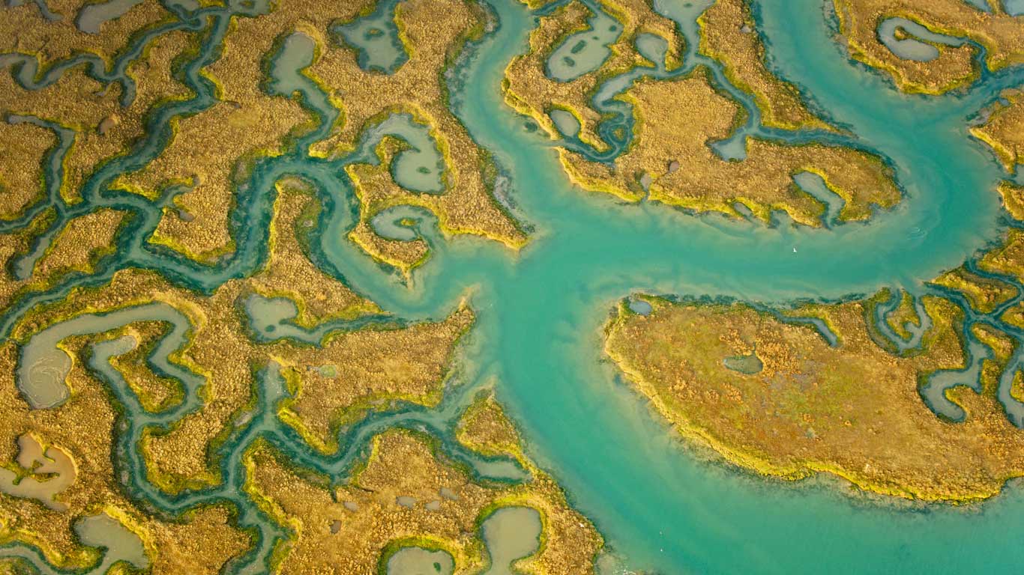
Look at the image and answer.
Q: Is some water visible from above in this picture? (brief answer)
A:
Yes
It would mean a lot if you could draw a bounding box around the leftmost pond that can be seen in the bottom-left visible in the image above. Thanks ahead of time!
[0,435,76,511]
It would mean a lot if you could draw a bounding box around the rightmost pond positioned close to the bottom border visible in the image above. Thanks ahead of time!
[485,509,539,575]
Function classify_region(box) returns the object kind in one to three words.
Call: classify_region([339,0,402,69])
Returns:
pond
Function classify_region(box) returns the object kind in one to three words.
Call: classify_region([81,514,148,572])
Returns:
pond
